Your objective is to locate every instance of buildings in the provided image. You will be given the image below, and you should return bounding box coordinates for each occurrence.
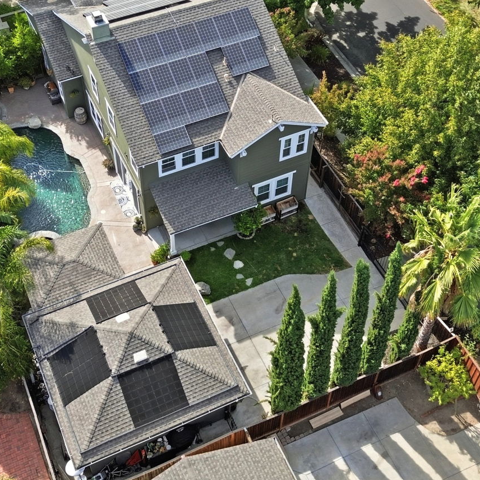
[20,256,253,476]
[161,436,301,480]
[17,0,335,256]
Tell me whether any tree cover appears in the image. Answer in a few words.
Yes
